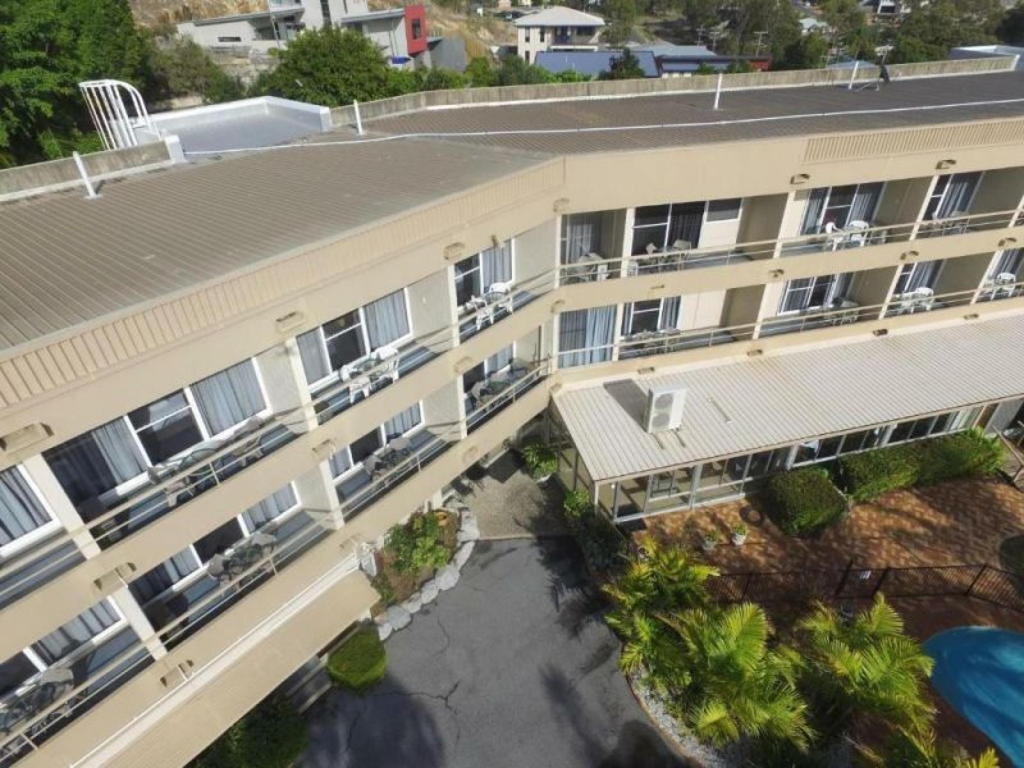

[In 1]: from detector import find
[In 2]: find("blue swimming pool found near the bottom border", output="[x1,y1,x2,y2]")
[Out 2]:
[920,623,1024,768]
